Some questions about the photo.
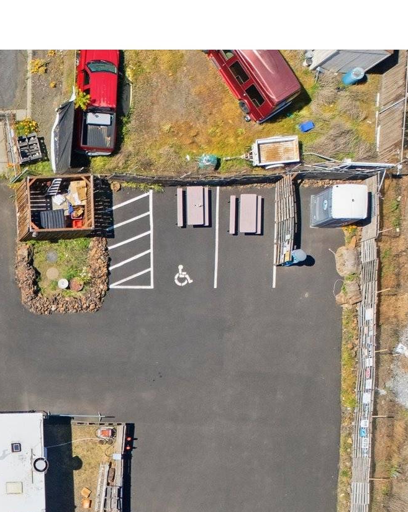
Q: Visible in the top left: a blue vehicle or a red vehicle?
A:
red vehicle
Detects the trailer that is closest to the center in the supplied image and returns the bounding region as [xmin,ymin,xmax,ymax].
[227,131,304,175]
